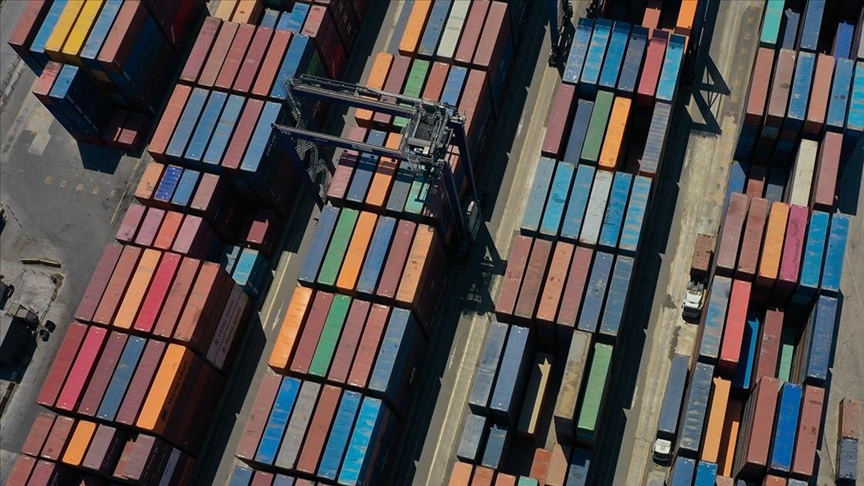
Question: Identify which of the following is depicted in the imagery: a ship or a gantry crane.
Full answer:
Of the two, only a gantry crane appears.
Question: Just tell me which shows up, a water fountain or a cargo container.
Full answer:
It is a cargo container that can be seen here.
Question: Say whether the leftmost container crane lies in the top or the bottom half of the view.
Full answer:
Seen from above, the leftmost container crane lies in the top half of the view.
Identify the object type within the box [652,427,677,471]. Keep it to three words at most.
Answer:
truck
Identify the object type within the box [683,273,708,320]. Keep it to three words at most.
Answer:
truck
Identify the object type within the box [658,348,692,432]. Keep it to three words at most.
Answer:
shipping container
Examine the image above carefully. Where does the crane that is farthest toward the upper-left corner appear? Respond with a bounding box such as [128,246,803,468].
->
[267,66,487,262]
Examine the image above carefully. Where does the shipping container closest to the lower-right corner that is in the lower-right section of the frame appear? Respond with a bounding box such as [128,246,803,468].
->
[830,440,858,486]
